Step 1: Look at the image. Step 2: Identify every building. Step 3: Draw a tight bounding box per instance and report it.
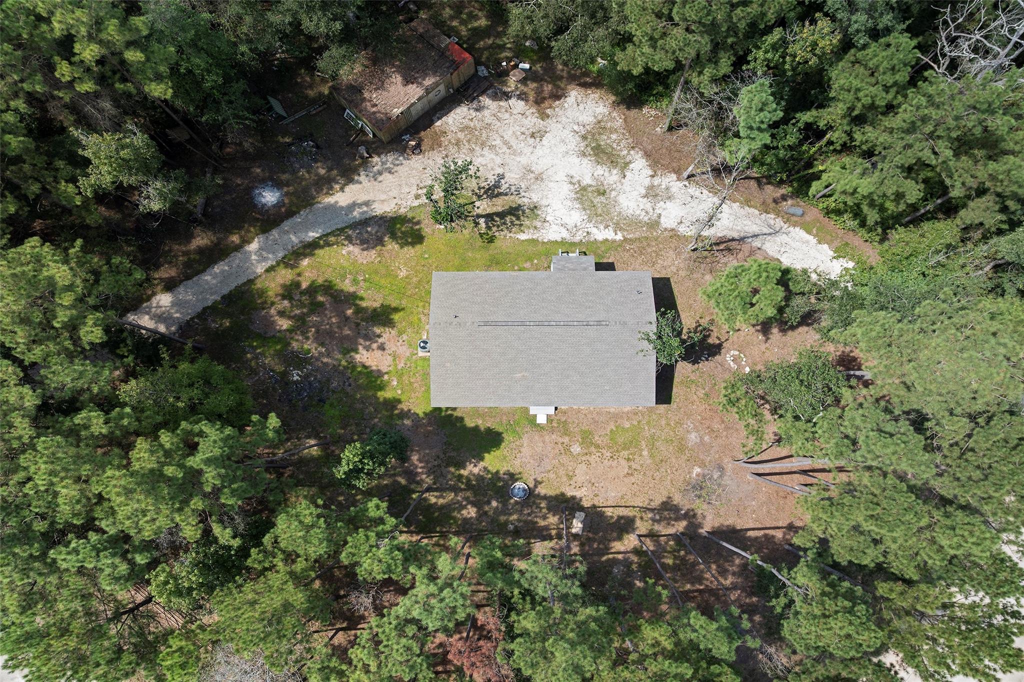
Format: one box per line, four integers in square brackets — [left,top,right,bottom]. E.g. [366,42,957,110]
[428,249,657,423]
[335,6,475,143]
